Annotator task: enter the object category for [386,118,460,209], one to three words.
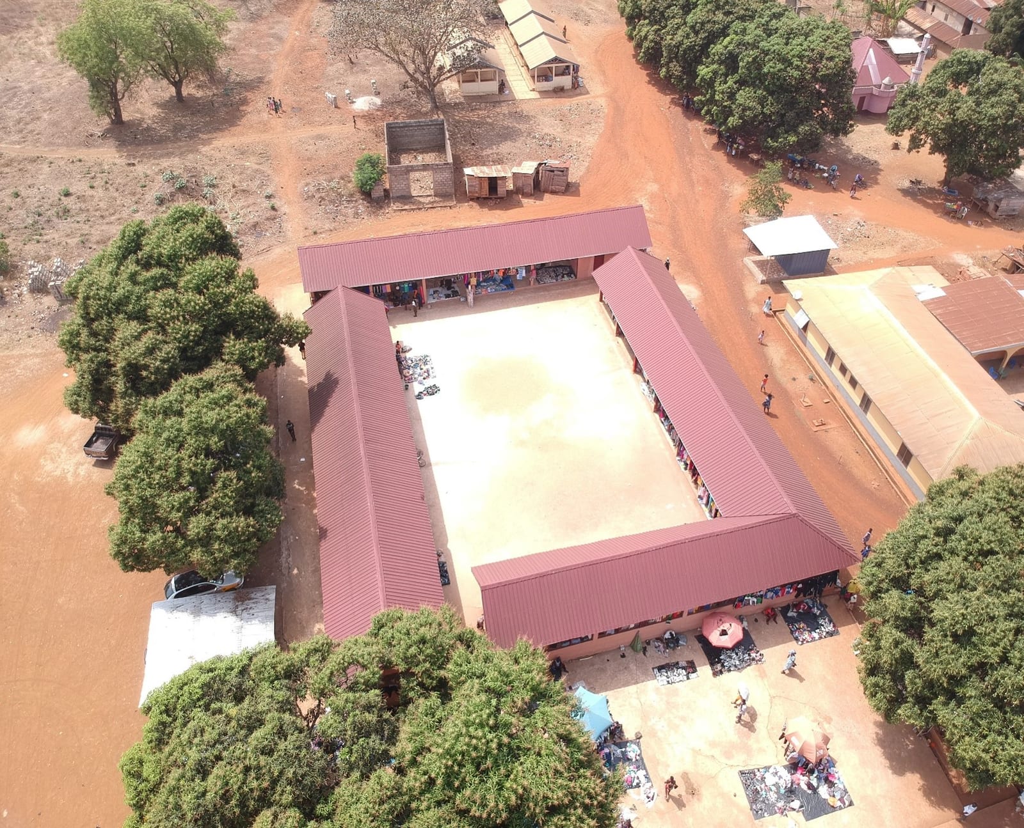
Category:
building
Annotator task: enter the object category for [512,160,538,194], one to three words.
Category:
shed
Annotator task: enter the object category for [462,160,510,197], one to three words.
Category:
shed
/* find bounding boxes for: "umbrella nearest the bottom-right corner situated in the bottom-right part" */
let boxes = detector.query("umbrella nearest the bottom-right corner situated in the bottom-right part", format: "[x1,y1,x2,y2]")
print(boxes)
[776,716,830,766]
